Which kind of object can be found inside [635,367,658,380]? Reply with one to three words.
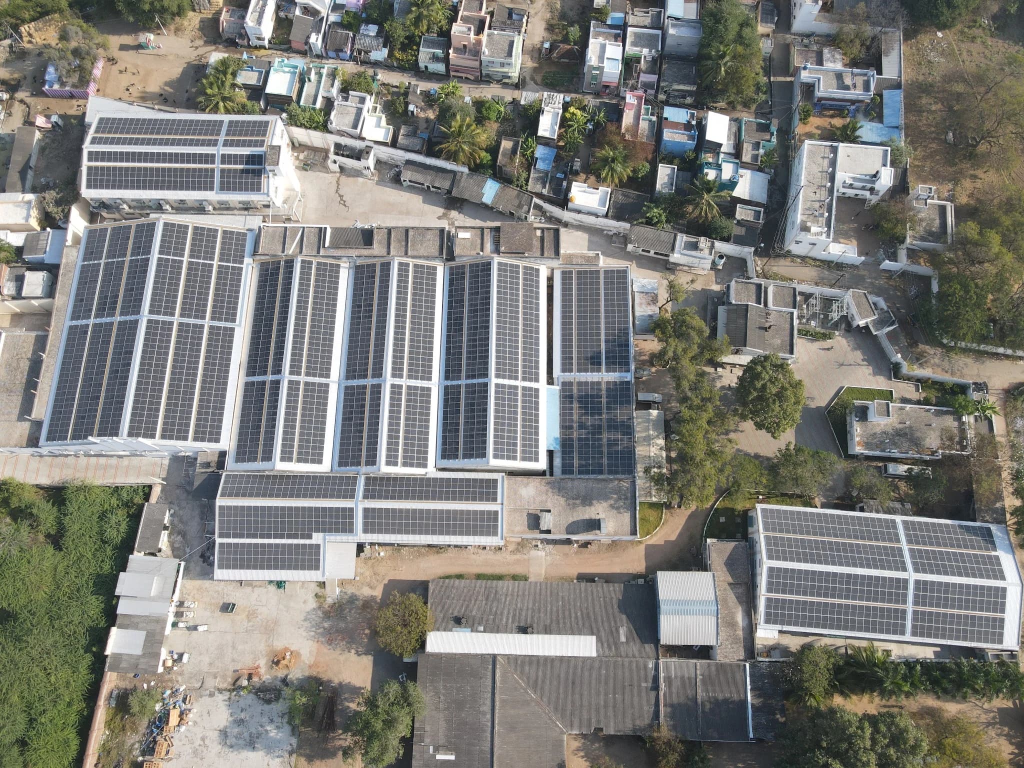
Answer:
vehicle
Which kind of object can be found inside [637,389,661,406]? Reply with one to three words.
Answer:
vehicle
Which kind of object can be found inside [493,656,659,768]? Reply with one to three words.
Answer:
shed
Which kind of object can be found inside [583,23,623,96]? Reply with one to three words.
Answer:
house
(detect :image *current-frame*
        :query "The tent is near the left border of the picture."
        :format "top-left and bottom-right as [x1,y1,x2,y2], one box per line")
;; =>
[42,59,105,100]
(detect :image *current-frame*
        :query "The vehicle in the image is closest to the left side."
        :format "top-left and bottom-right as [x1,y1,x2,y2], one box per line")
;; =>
[48,115,67,131]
